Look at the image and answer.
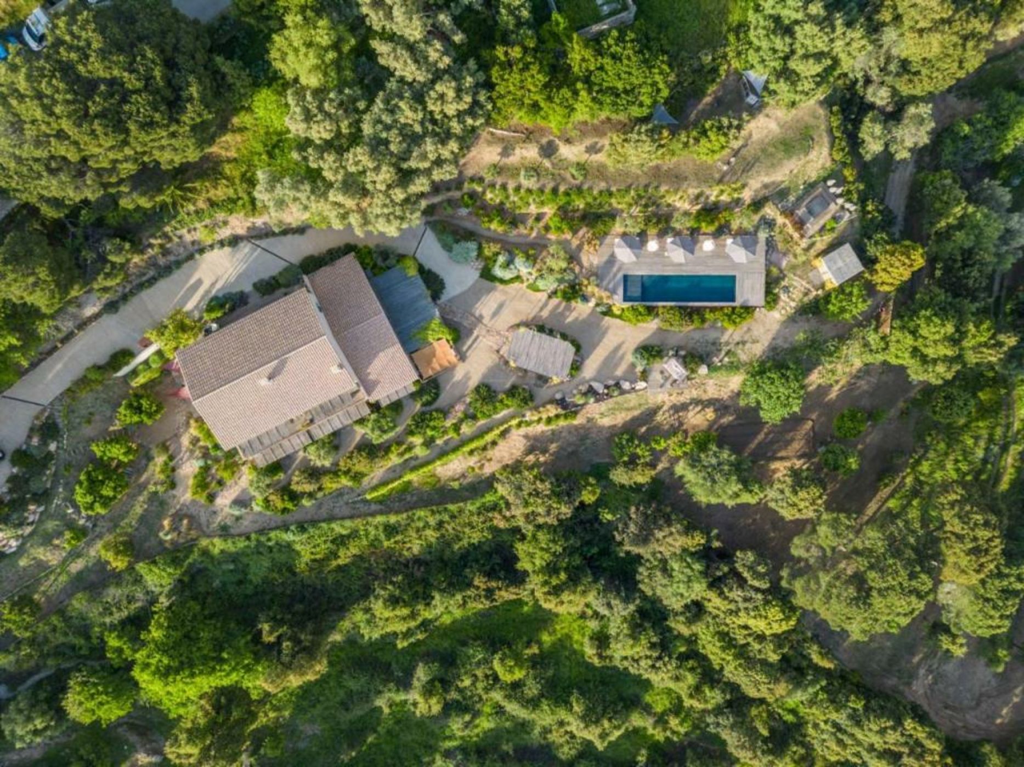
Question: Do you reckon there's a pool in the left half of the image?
No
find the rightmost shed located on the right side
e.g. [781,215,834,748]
[813,243,864,287]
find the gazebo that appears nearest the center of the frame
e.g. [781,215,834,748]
[507,328,575,380]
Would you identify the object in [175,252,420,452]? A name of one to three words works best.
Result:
house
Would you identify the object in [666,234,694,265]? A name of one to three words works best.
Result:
umbrella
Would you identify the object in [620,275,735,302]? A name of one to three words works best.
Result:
swimming pool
